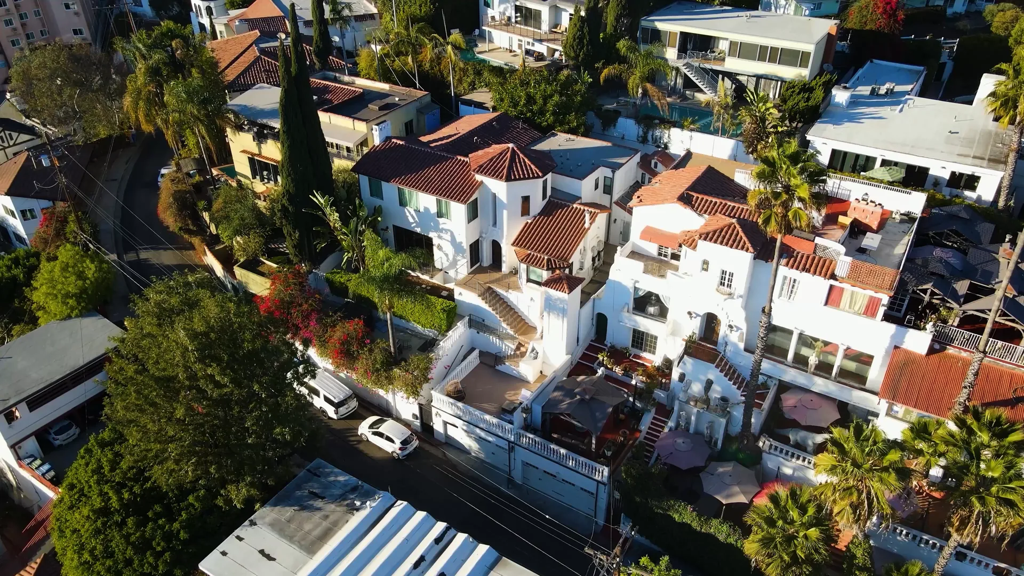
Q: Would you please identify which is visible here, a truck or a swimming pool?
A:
swimming pool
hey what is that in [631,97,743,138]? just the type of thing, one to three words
swimming pool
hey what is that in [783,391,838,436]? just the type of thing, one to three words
umbrella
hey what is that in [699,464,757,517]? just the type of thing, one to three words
umbrella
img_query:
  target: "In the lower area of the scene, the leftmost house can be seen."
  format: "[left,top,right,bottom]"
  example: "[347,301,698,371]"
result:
[0,310,131,474]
